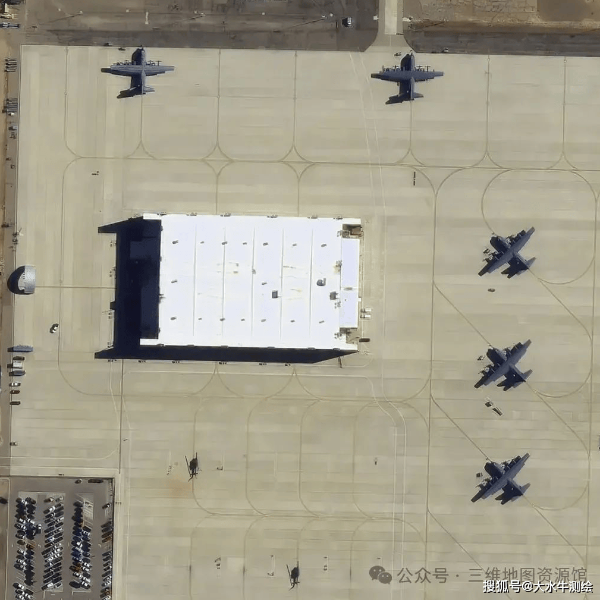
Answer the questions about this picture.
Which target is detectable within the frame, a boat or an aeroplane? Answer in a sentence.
The one in the frame is an aeroplane.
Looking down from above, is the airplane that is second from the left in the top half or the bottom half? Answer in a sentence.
The airplane that is second from the left sits in the top half of the picture.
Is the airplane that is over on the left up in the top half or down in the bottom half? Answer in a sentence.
You can find the airplane that is over on the left in the top half.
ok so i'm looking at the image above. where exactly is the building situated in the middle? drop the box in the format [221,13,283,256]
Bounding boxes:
[131,214,361,351]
